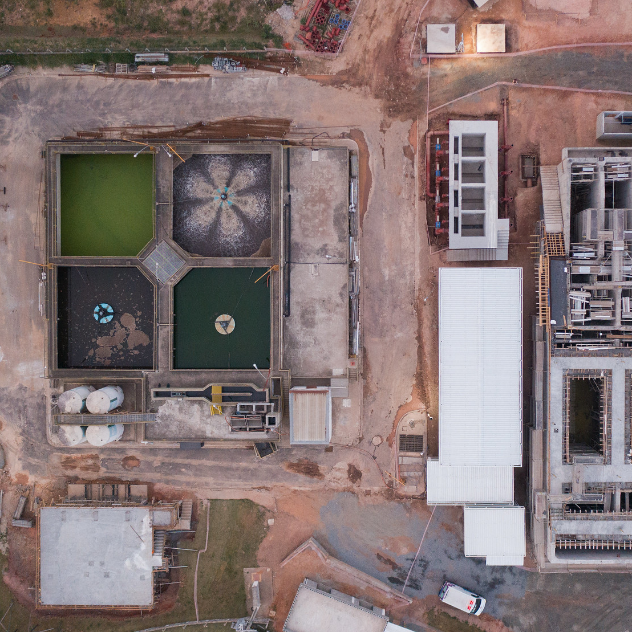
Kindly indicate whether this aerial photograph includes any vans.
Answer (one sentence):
Yes, the image includes a van.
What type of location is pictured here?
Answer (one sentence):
This looks like an industrial area.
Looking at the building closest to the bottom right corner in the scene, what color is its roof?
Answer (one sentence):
The roof over the building closest to the bottom right corner appears white.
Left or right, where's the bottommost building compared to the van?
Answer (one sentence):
The van has the bottommost building on its left side.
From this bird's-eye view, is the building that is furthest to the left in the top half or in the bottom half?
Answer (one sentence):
The building that is furthest to the left is in the bottom half of the image.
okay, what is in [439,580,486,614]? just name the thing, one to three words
van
